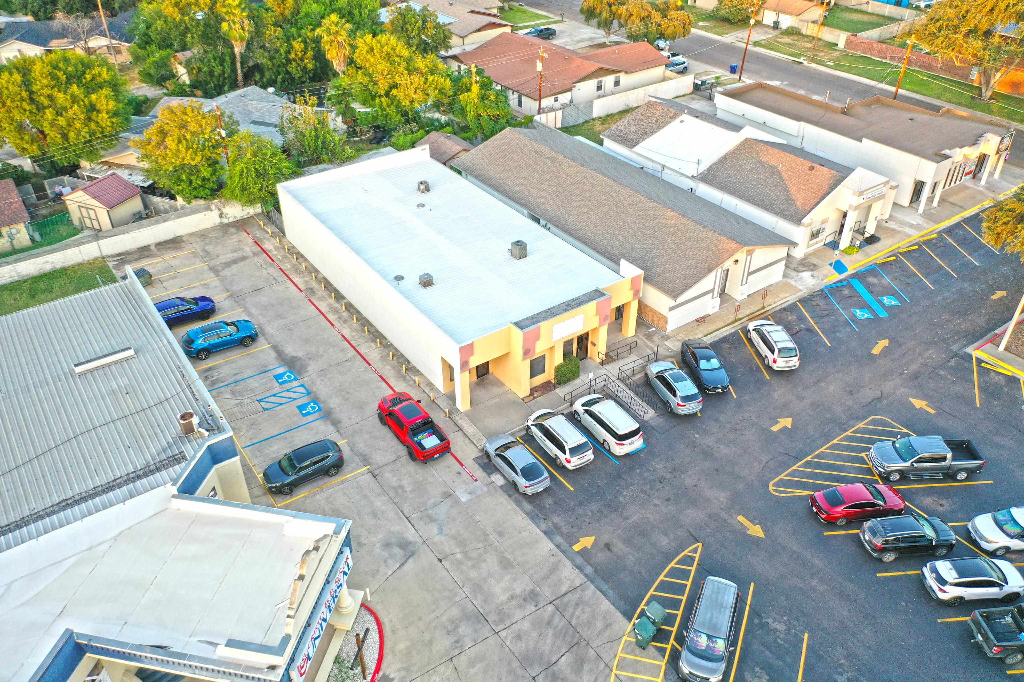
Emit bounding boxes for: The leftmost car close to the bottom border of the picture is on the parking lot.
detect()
[671,575,738,682]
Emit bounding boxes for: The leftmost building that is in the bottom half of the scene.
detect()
[0,265,368,682]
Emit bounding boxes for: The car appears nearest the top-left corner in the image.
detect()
[155,287,234,326]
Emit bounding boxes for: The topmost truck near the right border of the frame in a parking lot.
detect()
[864,435,993,483]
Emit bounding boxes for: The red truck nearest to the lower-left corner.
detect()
[373,389,455,466]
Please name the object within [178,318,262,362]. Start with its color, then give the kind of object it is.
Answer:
blue car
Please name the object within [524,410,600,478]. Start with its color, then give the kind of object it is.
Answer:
white car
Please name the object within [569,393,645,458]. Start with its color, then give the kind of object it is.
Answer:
white car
